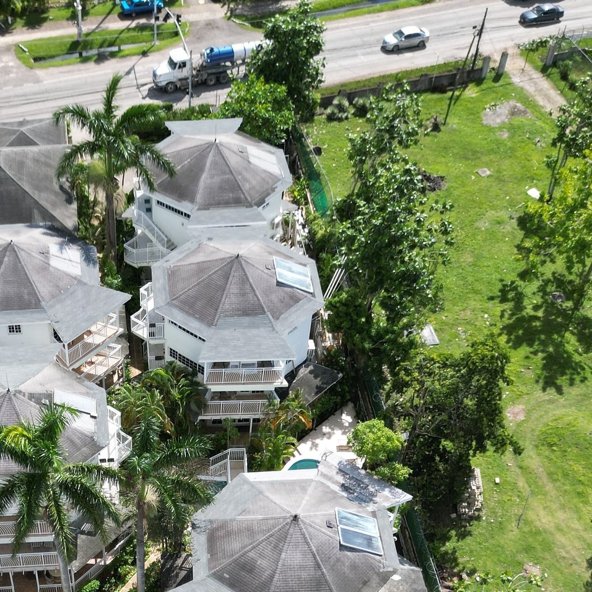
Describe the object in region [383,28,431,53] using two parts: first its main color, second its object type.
gray car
